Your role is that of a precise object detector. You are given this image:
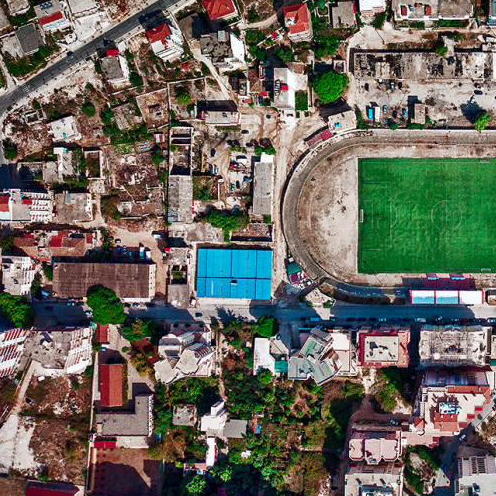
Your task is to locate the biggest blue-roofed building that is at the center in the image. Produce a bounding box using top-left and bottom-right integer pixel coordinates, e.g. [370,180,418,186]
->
[196,248,276,299]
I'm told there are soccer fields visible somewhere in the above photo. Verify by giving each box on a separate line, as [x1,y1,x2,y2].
[358,158,496,273]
